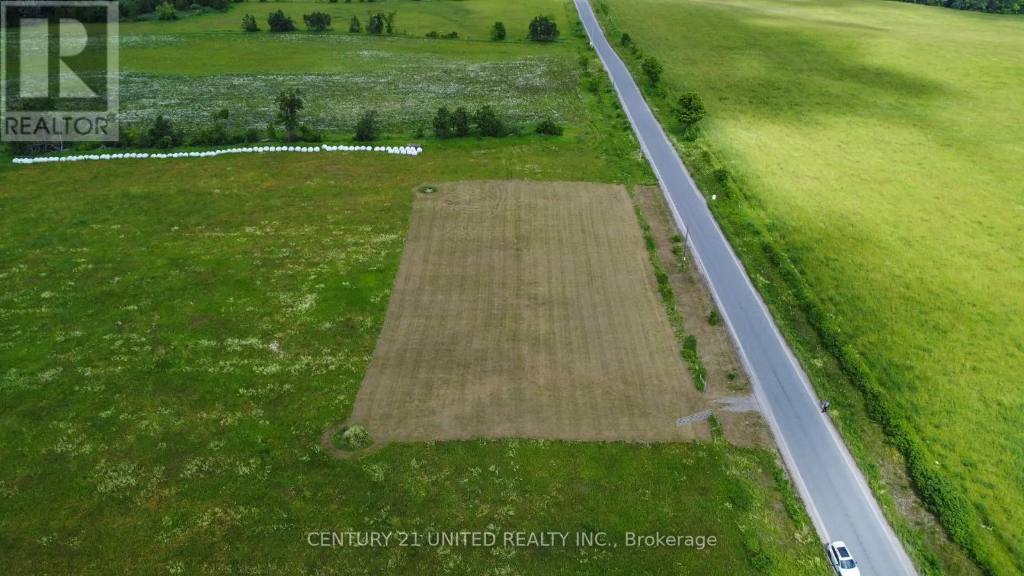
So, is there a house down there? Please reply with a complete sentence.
No, I can't see a single house in this photo.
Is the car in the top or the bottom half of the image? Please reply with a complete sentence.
Seen from above, the car lies in the bottom half of the view.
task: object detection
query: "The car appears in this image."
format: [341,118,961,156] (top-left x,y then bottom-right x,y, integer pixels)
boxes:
[830,539,866,576]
